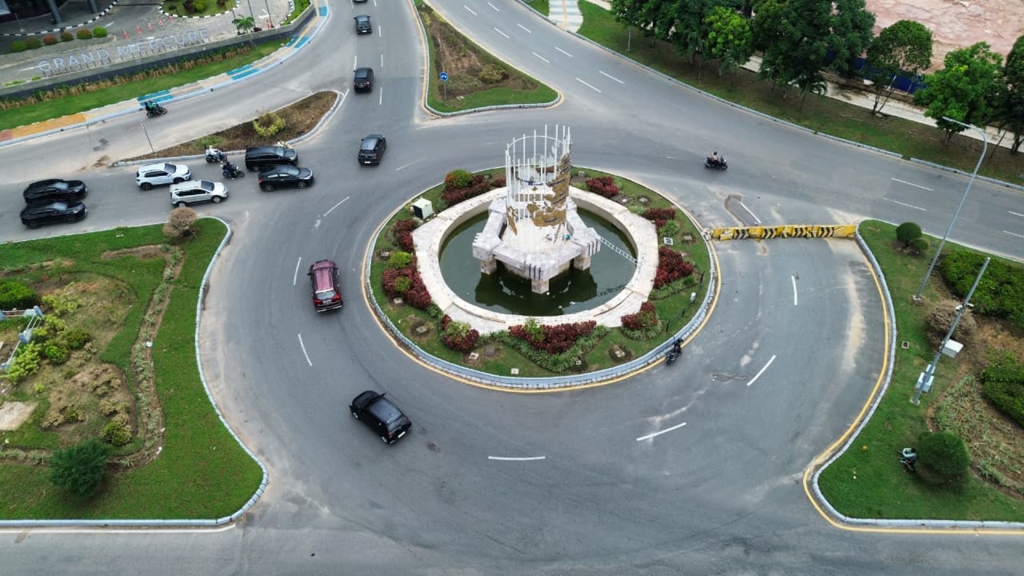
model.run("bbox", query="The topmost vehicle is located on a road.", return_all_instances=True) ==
[353,12,372,29]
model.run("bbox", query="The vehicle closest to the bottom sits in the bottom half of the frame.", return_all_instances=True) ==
[349,388,415,445]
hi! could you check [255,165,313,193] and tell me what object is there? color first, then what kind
black car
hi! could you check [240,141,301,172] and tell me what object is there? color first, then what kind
black van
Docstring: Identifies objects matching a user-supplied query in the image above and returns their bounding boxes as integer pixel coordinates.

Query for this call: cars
[353,12,372,29]
[358,131,389,160]
[255,165,313,193]
[349,388,415,445]
[165,177,230,209]
[20,175,86,202]
[351,63,373,87]
[16,198,85,229]
[130,160,190,190]
[305,257,343,306]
